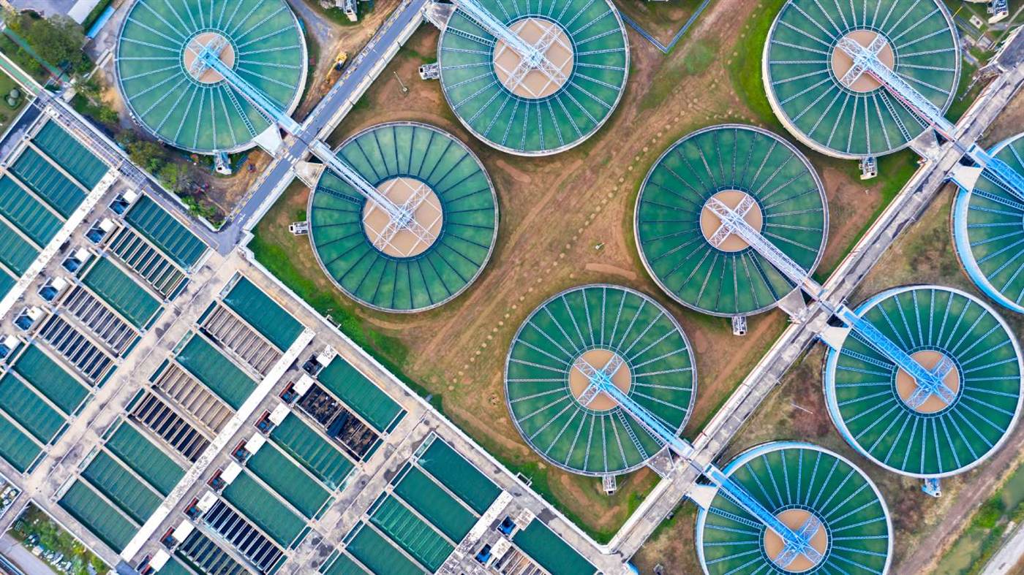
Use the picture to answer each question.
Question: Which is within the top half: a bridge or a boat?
bridge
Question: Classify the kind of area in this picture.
industrial area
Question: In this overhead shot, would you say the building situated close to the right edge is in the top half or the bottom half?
top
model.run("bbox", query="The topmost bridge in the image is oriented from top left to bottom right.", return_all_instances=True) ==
[450,0,549,72]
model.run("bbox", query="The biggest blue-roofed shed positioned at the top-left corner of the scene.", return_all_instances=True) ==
[87,6,117,39]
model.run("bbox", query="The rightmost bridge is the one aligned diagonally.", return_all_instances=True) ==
[962,144,1024,205]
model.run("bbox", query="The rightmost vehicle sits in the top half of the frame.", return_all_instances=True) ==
[325,48,351,76]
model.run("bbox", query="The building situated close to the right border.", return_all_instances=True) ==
[971,9,1024,95]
